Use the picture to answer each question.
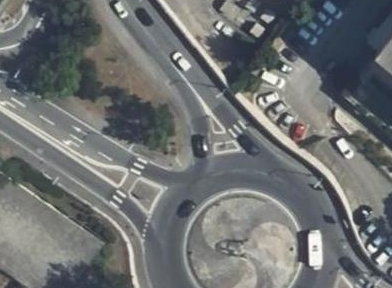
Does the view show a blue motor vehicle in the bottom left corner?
No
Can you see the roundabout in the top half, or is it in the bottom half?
bottom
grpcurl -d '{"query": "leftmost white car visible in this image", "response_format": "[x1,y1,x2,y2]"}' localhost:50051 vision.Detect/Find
[112,0,128,19]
